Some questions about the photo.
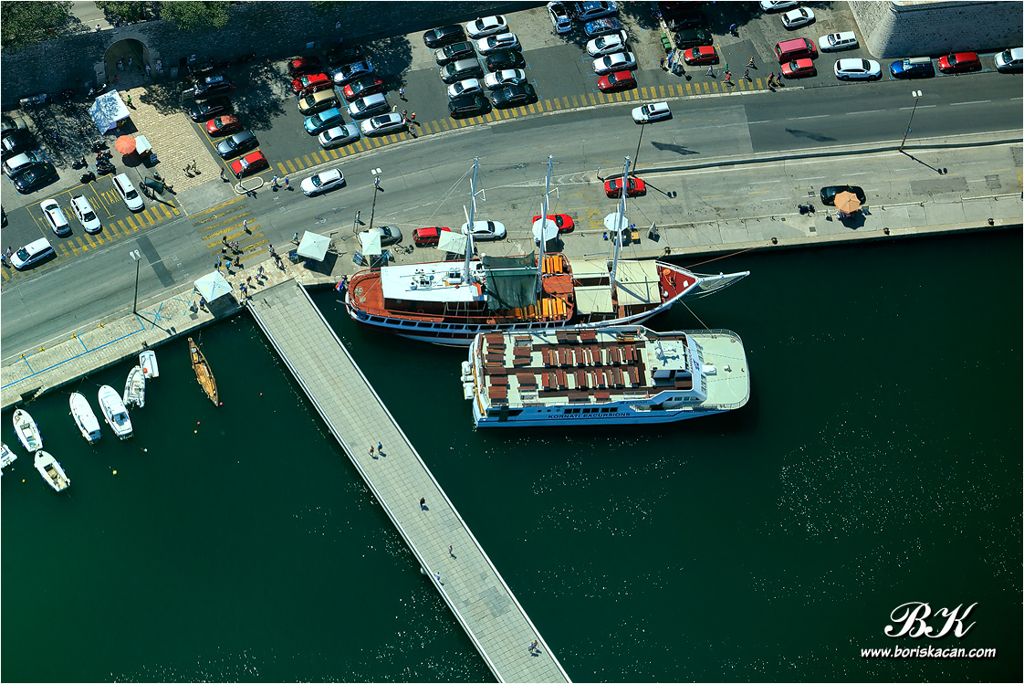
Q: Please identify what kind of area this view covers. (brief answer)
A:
port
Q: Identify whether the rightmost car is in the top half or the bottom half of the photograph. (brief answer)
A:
top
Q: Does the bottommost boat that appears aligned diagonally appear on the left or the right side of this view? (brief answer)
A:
left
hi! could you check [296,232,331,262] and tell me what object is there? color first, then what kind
white umbrella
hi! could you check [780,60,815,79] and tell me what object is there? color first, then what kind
red car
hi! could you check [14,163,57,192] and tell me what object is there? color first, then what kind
black car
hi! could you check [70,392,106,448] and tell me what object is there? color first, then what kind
white boat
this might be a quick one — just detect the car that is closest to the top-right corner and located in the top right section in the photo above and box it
[993,50,1024,71]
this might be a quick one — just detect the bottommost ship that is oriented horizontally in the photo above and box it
[462,326,751,426]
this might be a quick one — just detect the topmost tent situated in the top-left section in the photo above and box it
[87,90,130,139]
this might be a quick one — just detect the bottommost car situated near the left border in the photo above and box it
[11,238,54,269]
